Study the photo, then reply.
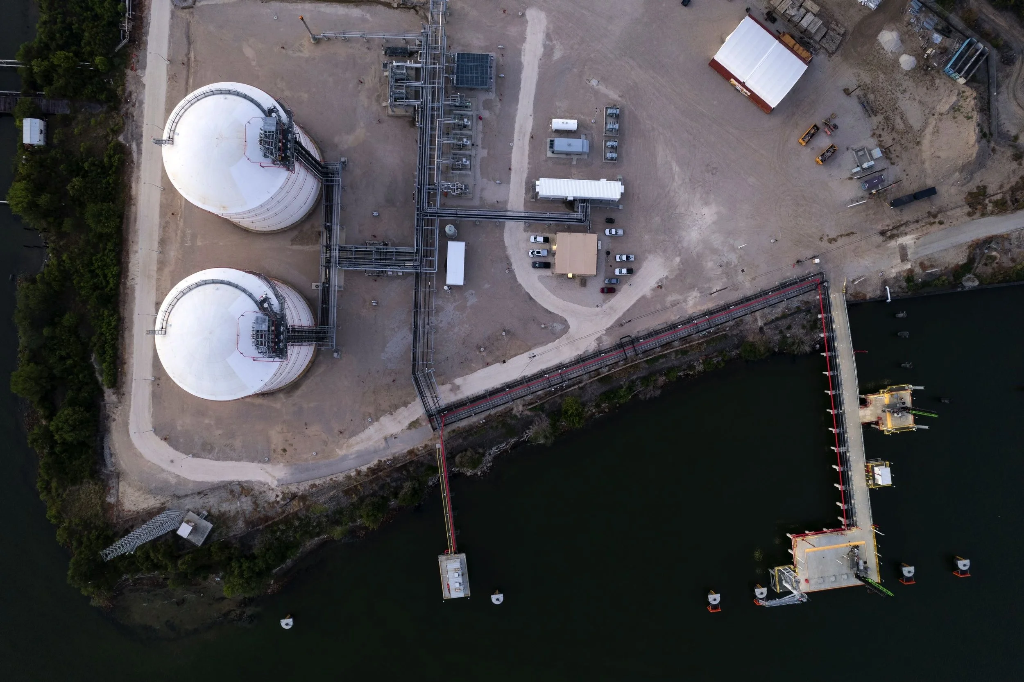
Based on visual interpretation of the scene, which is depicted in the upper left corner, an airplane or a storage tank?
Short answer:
storage tank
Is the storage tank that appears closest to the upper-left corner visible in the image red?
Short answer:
No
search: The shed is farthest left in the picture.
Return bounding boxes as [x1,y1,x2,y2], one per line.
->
[24,118,50,150]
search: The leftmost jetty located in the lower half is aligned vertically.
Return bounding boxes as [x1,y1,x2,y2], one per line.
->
[435,417,459,557]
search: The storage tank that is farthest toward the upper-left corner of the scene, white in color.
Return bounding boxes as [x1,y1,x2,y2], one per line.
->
[140,80,324,232]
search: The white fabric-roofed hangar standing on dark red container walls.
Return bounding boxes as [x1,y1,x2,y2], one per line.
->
[709,12,810,113]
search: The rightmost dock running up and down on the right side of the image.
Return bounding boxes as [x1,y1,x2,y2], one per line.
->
[813,280,874,529]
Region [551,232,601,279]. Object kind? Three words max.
building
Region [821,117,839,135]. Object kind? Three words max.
work vehicle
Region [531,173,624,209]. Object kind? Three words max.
building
